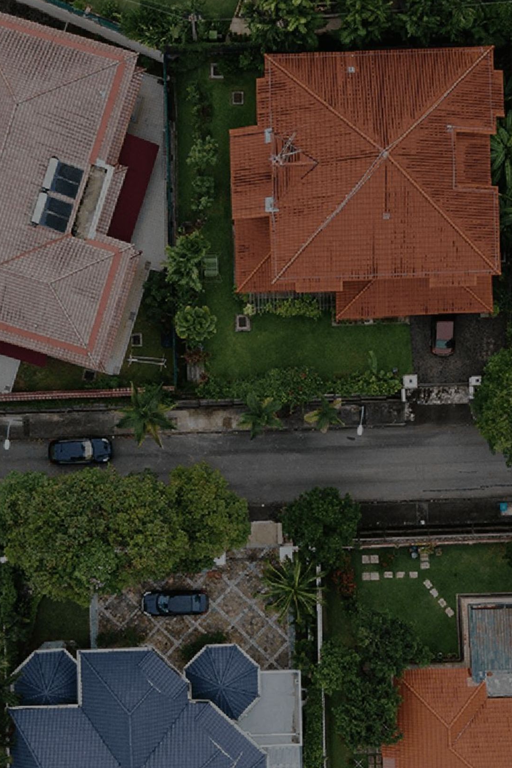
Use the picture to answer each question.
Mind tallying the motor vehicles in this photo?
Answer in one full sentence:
The number of motor vehicles here is 3.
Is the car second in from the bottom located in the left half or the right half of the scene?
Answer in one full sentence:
You can find the car second in from the bottom on the left side of the picture.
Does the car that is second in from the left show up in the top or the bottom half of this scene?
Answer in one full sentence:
You can find the car that is second in from the left in the bottom half.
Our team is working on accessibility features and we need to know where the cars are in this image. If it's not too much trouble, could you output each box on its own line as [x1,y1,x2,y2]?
[45,435,115,468]
[428,315,458,358]
[141,587,211,621]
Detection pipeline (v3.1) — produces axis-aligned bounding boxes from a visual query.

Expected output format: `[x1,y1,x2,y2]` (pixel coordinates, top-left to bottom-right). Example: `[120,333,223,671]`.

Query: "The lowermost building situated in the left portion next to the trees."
[5,634,308,768]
